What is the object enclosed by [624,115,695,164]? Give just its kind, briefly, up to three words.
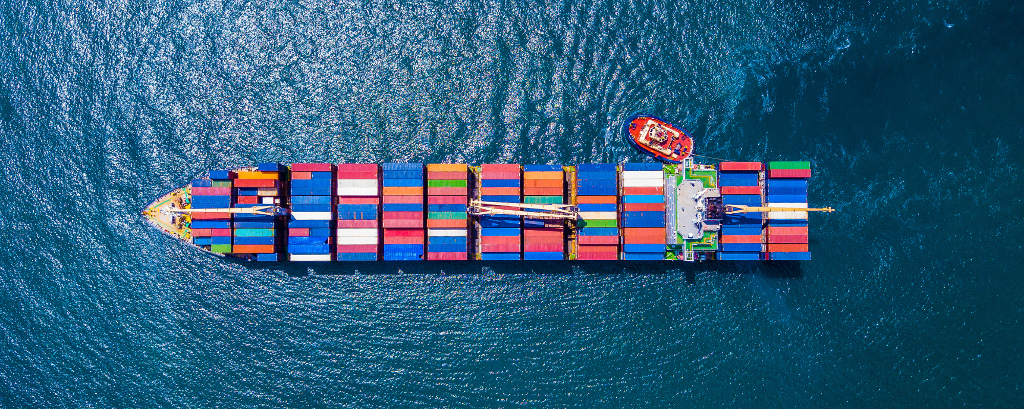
boat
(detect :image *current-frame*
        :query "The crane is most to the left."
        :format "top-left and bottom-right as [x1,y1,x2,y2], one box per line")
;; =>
[156,204,292,217]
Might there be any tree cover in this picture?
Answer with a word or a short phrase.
No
